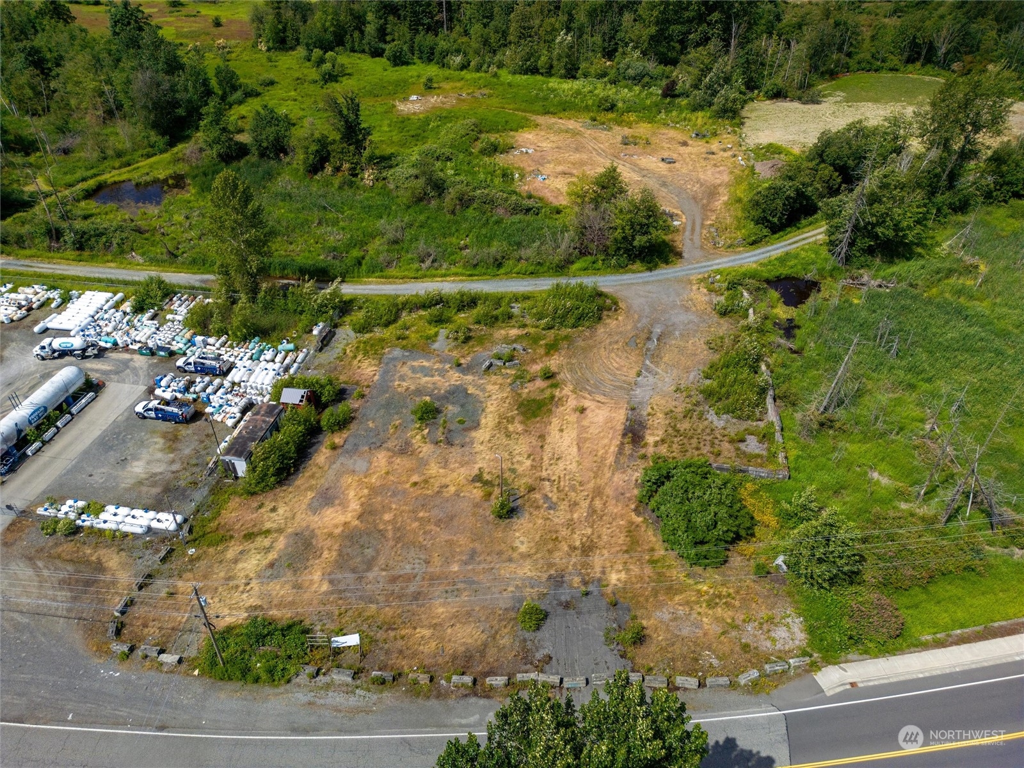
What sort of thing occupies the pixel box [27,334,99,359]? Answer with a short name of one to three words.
truck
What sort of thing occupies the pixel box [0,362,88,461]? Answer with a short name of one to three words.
storage tank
